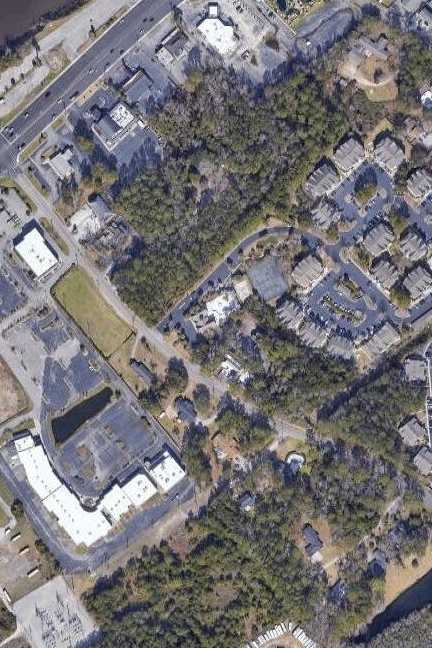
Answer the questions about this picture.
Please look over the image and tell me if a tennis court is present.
Yes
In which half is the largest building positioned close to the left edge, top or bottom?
bottom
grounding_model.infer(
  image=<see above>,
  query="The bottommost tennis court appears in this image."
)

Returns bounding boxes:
[248,255,289,300]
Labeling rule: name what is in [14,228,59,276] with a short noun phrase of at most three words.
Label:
building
